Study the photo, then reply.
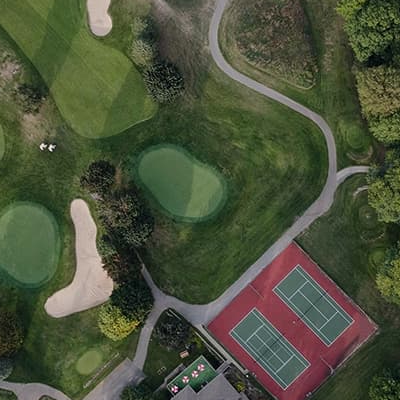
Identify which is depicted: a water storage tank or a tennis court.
tennis court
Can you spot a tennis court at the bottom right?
Yes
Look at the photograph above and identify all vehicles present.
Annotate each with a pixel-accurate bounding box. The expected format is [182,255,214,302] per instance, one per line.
[40,143,48,151]
[49,144,57,152]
